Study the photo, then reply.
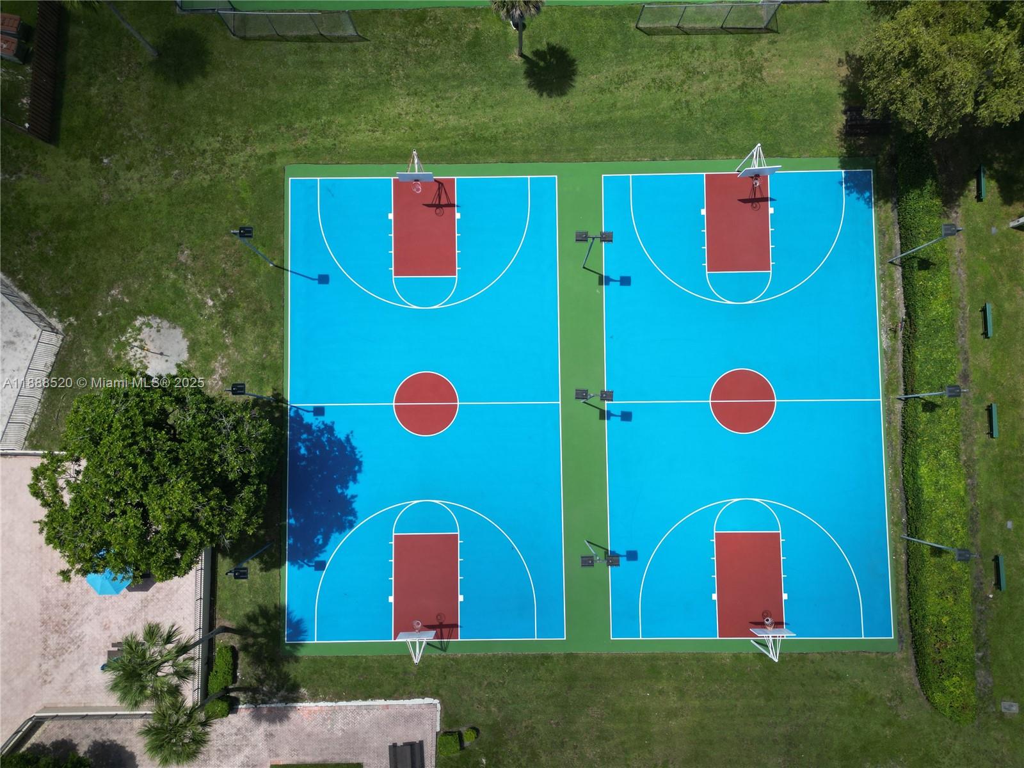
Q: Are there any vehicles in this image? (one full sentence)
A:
No, the picture doesn't show any vehicle.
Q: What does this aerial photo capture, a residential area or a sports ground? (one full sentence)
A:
This looks like a sports ground.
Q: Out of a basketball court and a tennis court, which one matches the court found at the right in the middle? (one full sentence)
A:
What you see as the court found at the right in the middle is a basketball court.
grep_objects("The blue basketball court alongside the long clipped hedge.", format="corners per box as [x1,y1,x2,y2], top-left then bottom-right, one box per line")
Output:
[603,170,893,639]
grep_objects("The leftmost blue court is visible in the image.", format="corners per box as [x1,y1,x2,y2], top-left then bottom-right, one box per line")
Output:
[286,176,566,642]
